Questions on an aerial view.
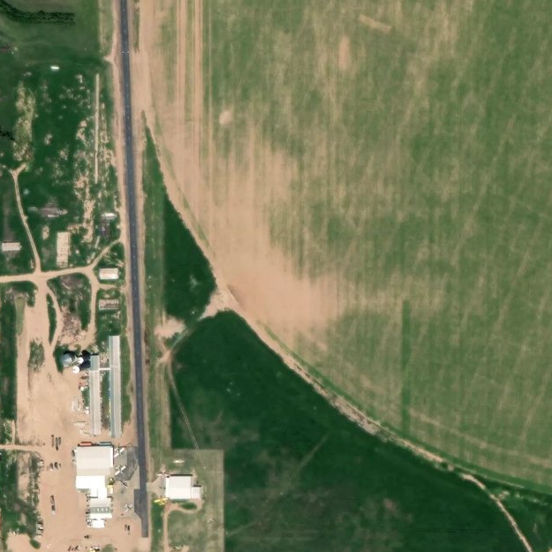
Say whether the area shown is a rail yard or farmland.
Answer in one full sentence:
The area seen from above is farmland.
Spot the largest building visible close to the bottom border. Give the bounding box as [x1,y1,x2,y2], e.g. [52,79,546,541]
[76,447,114,529]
